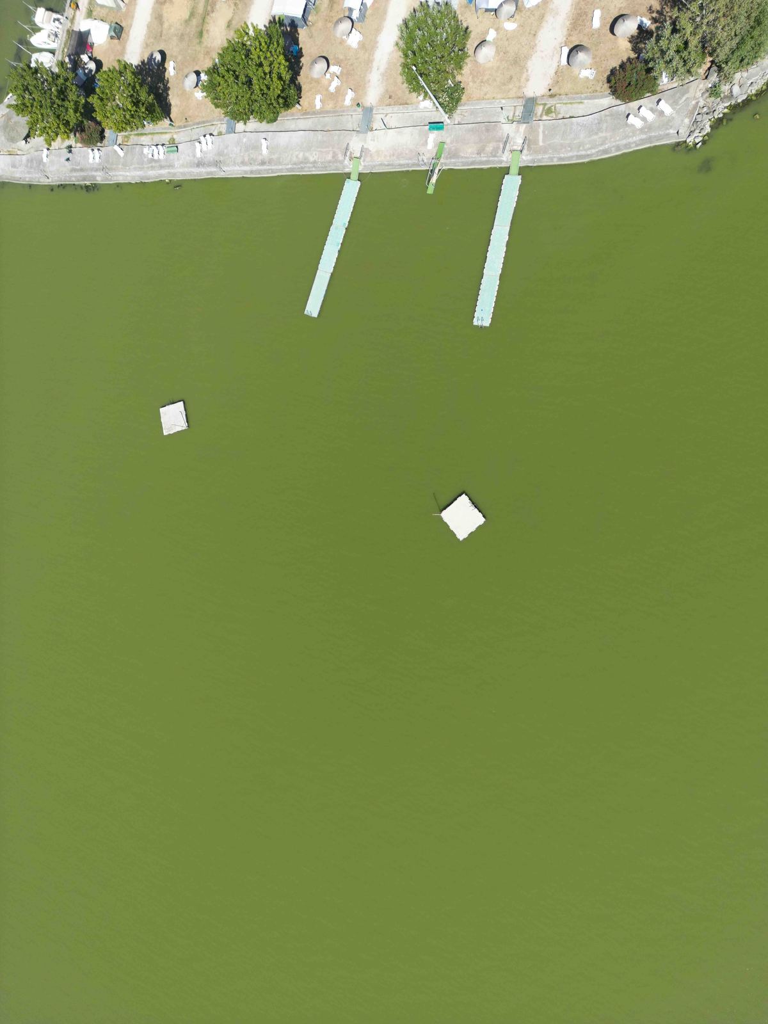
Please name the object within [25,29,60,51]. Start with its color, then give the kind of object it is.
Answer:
white boat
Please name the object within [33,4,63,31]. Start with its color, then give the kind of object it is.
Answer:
white boat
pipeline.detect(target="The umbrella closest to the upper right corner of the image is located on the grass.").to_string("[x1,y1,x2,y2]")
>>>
[612,15,640,51]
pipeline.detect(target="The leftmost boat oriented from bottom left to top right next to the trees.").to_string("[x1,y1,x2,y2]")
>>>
[1,83,19,103]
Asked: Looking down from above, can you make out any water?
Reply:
Yes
